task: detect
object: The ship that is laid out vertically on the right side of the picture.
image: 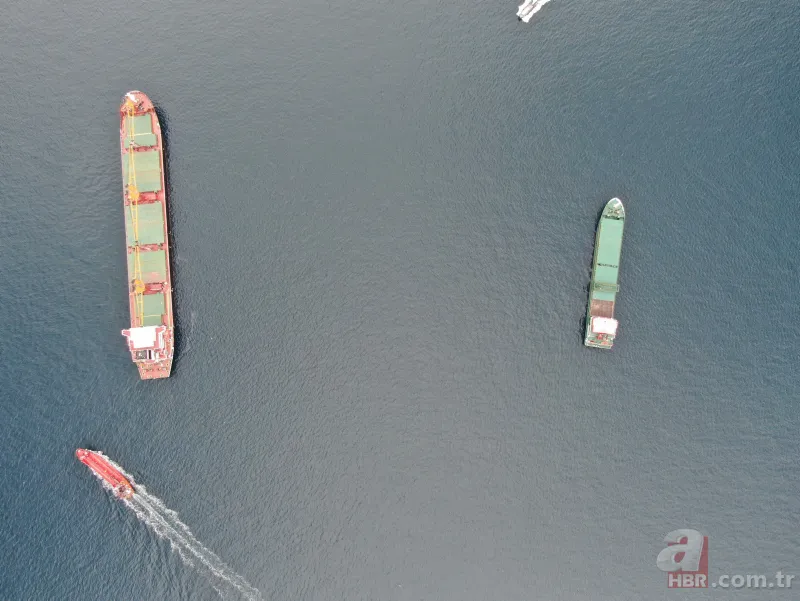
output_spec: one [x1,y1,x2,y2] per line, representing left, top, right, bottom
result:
[584,197,624,349]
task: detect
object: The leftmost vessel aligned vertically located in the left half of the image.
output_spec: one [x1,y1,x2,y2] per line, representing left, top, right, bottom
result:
[120,91,179,379]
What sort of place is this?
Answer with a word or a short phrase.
port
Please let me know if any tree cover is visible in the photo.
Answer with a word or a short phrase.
No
